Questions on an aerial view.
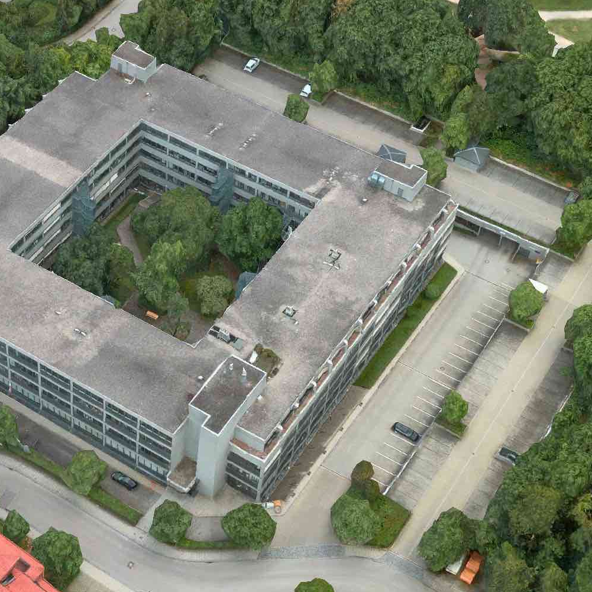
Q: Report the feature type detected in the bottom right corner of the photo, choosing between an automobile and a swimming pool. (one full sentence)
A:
The feature located in the bottom right corner of the photo is an automobile.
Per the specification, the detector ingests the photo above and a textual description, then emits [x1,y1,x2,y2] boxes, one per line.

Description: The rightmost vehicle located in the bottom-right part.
[499,446,523,465]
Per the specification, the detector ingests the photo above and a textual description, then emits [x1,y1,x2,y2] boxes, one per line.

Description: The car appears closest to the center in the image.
[392,425,419,443]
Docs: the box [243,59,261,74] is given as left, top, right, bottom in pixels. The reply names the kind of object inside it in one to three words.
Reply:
car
